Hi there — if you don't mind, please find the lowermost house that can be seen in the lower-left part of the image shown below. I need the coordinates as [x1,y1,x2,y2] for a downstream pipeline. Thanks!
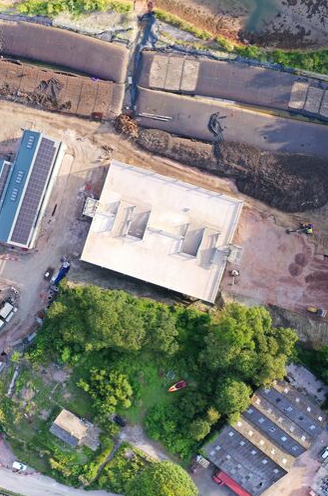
[47,406,101,450]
